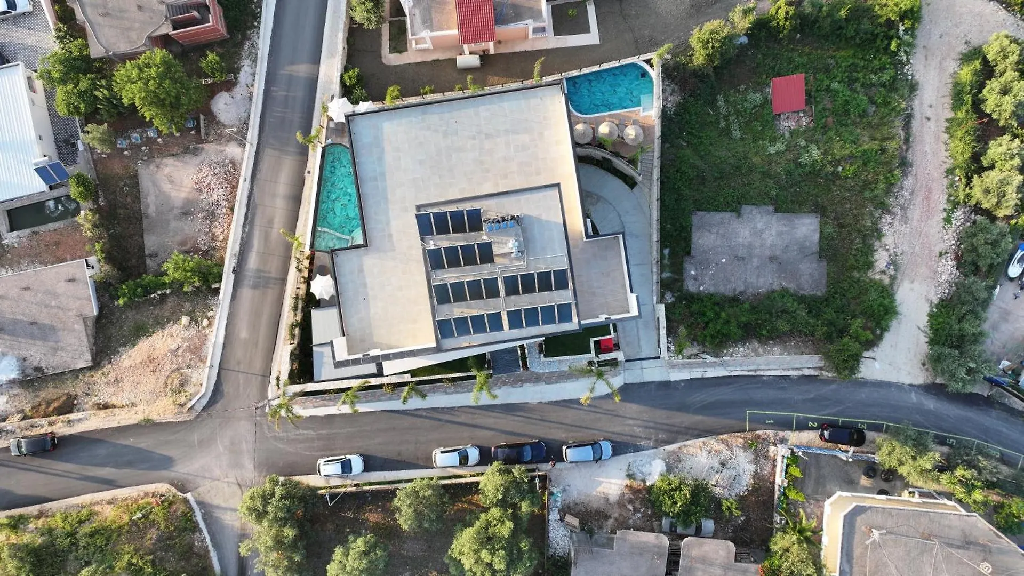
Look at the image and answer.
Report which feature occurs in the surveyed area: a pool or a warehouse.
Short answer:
pool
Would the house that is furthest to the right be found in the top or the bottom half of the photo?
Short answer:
bottom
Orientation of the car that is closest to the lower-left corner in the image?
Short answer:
from side to side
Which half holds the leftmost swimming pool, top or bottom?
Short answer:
top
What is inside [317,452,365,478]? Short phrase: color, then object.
white car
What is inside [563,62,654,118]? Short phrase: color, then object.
blue swimming pool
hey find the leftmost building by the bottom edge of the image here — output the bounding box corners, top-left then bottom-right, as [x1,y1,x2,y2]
[568,520,670,576]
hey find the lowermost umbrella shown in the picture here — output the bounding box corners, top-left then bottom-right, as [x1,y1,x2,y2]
[311,274,334,300]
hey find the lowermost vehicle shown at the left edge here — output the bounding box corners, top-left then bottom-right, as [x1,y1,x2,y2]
[11,432,59,458]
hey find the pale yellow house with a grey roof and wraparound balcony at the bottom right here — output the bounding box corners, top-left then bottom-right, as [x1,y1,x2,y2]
[820,486,1024,576]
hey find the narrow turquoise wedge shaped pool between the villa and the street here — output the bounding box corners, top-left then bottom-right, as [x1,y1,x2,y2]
[312,143,363,252]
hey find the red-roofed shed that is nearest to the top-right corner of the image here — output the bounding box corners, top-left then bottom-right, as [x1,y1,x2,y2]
[765,74,805,116]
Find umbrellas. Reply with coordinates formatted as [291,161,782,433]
[622,125,643,146]
[597,122,618,142]
[311,274,334,300]
[326,98,353,124]
[354,100,376,110]
[575,124,593,144]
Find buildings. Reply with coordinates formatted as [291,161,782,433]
[676,530,759,576]
[568,520,670,576]
[600,338,614,354]
[311,81,641,385]
[404,0,547,58]
[0,61,66,207]
[0,258,113,386]
[820,486,1024,576]
[67,0,235,76]
[765,74,805,116]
